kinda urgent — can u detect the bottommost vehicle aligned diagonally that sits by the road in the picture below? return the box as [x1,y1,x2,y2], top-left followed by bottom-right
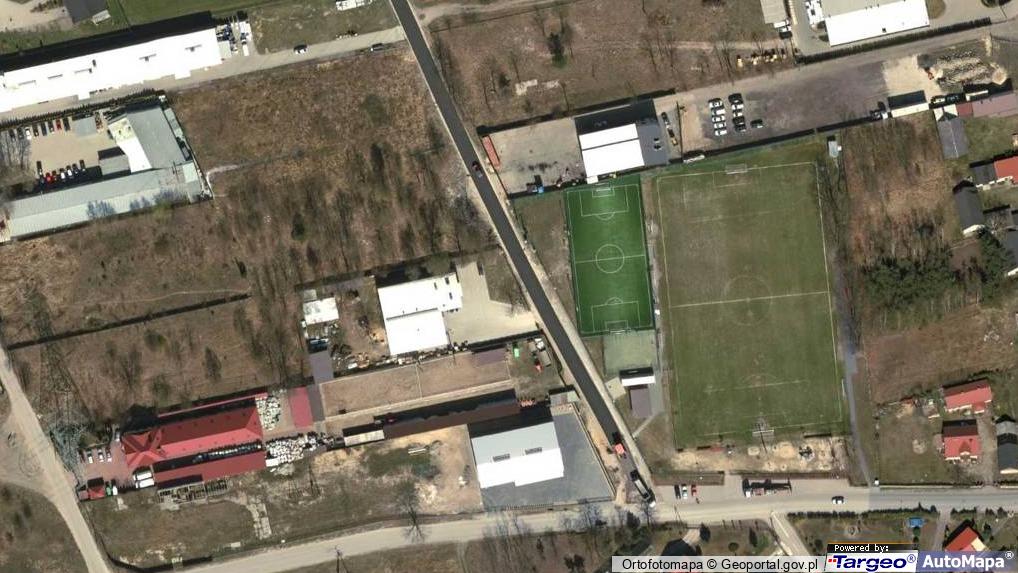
[631,474,655,505]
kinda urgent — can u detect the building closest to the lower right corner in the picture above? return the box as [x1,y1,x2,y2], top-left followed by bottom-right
[945,527,993,573]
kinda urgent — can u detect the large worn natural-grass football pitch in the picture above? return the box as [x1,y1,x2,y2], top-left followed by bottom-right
[655,160,848,447]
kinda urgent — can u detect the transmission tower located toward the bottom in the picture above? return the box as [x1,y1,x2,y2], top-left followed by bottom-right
[33,424,89,458]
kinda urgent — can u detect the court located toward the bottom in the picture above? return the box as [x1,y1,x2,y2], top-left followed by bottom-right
[604,331,656,376]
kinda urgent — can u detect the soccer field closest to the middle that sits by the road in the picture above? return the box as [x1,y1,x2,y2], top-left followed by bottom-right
[564,179,656,336]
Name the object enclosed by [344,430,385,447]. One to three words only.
shed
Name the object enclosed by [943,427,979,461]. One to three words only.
house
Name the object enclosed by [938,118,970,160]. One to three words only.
barn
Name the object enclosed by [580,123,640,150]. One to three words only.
building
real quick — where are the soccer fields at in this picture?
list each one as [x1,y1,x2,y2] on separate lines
[564,179,656,336]
[655,160,848,447]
